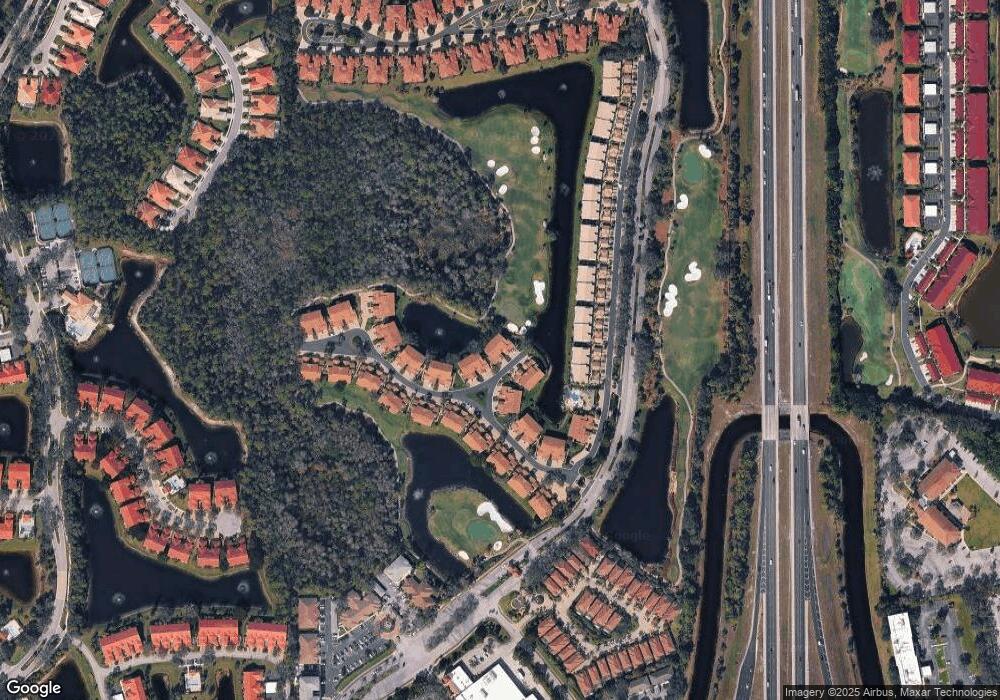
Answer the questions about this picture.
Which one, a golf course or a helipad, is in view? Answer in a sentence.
The image shows a golf course.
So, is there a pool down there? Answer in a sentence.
Yes, there is a pool in the image.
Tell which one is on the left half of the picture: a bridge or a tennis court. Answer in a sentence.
Visible on the left half of the picture is a tennis court.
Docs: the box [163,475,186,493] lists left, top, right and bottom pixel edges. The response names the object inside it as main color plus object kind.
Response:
white swimming pool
